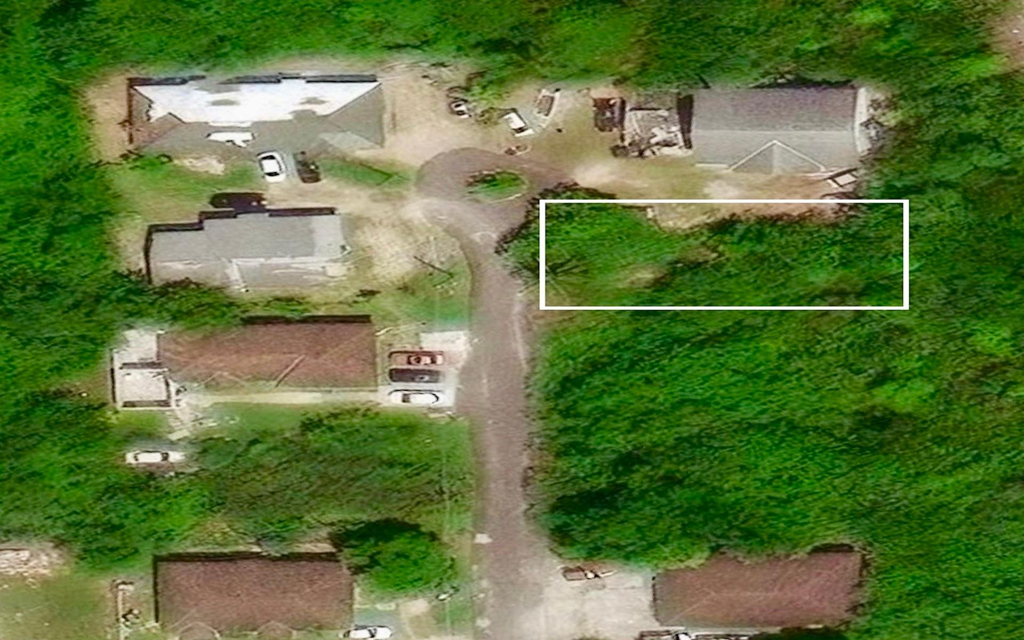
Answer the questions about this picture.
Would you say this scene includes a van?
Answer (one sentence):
Yes, a van is visible in the scene.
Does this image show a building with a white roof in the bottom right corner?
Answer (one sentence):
No, there is no building with a white roof in the bottom right corner.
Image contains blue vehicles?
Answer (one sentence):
No, there's no blue vehicle here.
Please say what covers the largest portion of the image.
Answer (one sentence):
For the most part, this view shows trees.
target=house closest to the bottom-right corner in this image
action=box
[655,552,859,631]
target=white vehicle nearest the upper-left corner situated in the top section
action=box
[258,150,286,185]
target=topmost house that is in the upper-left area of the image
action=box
[132,80,387,152]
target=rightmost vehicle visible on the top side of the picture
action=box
[593,96,620,134]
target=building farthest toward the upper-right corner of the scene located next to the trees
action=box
[692,86,860,173]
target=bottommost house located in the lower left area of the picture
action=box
[157,557,355,640]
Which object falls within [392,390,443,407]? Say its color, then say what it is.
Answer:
white car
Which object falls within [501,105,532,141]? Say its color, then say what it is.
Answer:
white van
